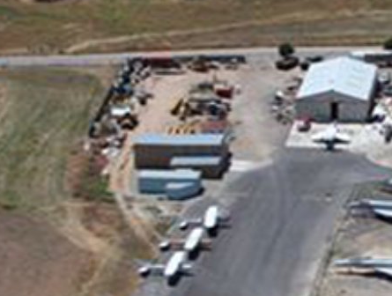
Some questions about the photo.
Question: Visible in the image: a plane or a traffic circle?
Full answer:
Looking from above, you can make out a plane.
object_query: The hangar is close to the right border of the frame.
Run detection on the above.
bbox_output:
[293,54,380,121]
